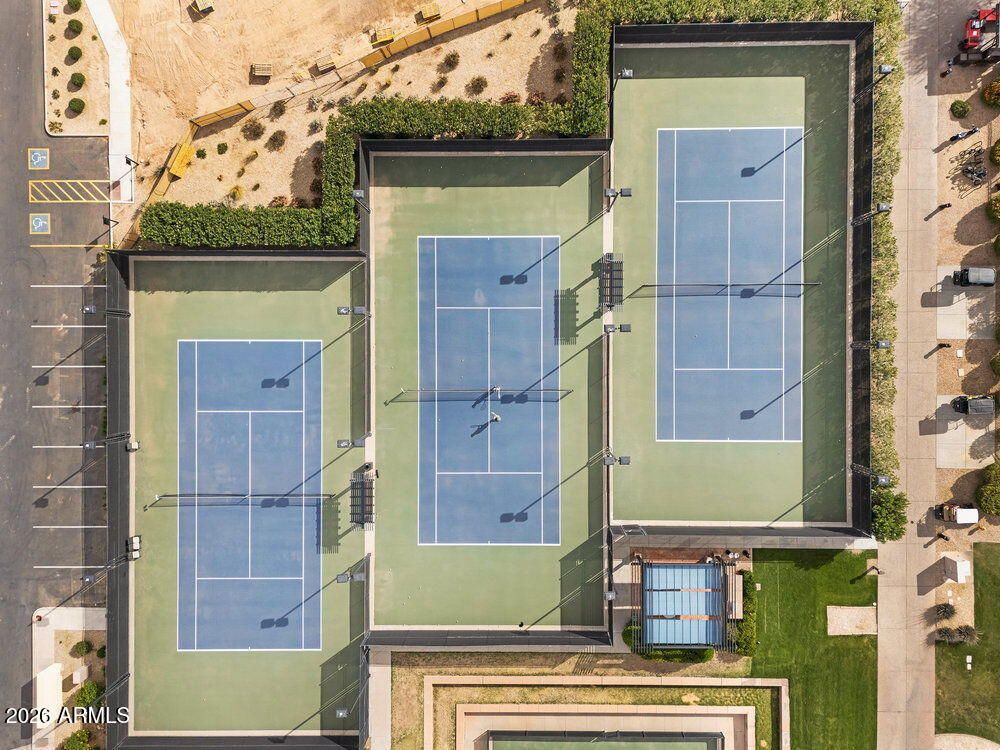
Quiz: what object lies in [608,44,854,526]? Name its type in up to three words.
tennis court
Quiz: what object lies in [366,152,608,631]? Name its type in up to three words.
tennis court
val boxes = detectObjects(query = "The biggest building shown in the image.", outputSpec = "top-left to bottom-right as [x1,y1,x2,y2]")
[630,553,738,651]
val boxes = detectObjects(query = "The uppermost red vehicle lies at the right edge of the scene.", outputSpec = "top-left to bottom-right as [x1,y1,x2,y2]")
[953,8,1000,52]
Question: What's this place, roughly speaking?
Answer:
sports ground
